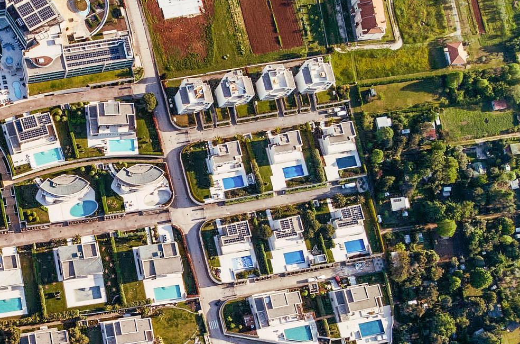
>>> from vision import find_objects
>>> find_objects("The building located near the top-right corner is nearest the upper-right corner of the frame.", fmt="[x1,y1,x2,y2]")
[442,42,467,68]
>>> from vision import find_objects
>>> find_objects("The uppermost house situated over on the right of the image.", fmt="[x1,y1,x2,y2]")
[348,0,386,43]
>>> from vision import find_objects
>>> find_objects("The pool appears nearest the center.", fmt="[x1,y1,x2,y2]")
[228,170,252,189]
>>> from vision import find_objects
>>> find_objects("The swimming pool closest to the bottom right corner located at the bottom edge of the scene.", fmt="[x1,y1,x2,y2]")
[357,319,385,339]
